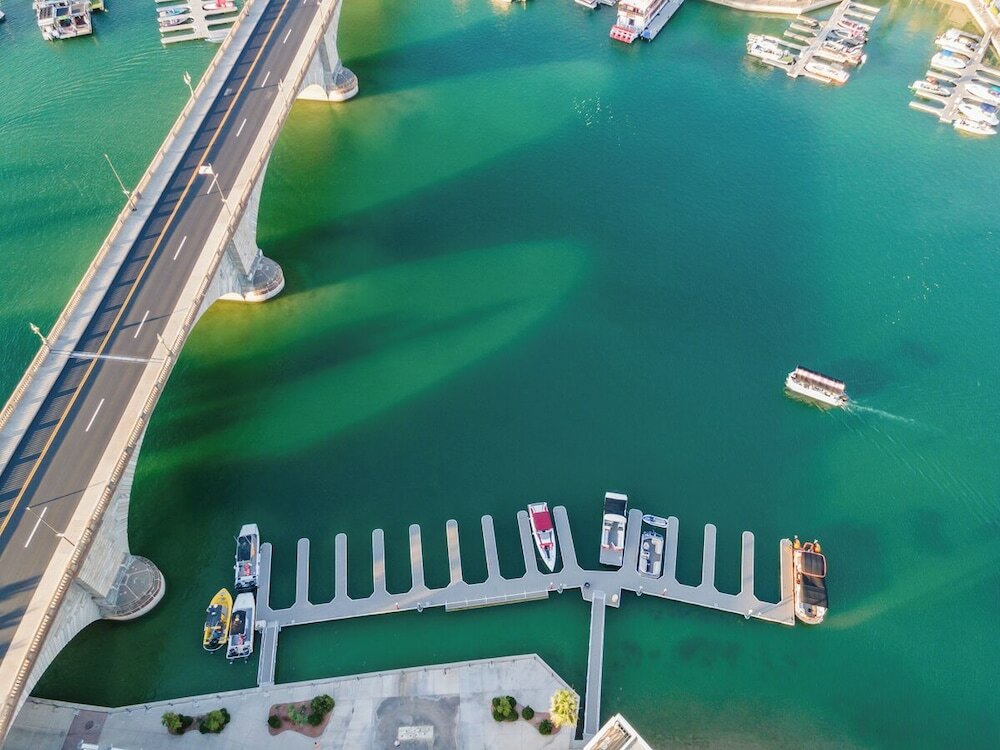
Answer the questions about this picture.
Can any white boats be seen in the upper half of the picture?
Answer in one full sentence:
Yes, you'll find a white boat in the upper half of the picture.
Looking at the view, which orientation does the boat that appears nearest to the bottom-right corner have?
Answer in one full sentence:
The boat that appears nearest to the bottom-right corner is laid out up and down.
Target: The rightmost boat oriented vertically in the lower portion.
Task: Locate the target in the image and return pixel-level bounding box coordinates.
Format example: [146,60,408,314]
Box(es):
[794,533,832,626]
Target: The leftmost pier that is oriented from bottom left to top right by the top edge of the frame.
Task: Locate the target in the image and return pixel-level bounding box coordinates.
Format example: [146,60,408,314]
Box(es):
[641,0,687,42]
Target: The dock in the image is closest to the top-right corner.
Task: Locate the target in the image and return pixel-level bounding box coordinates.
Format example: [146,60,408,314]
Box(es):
[911,33,1000,128]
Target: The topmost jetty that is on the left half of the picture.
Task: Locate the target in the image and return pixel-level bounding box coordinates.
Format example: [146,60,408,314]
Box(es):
[152,0,242,45]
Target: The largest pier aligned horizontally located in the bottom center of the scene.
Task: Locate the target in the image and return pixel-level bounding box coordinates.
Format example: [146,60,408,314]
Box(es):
[253,506,796,629]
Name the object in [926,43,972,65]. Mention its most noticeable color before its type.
white boat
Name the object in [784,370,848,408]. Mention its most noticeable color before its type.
white boat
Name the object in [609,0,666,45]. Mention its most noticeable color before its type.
white ship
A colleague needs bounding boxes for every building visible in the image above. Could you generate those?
[582,713,650,750]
